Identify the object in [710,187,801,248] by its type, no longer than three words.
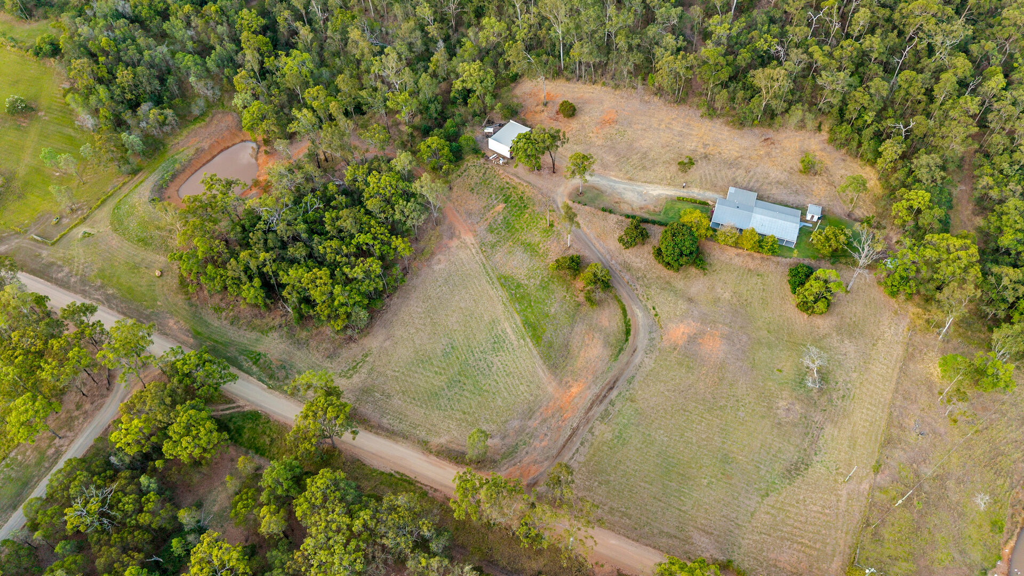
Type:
house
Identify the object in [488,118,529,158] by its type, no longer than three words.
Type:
shed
